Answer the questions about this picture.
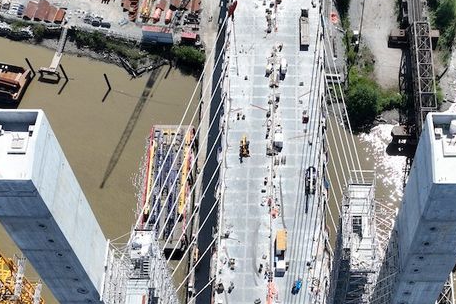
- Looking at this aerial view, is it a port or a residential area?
port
